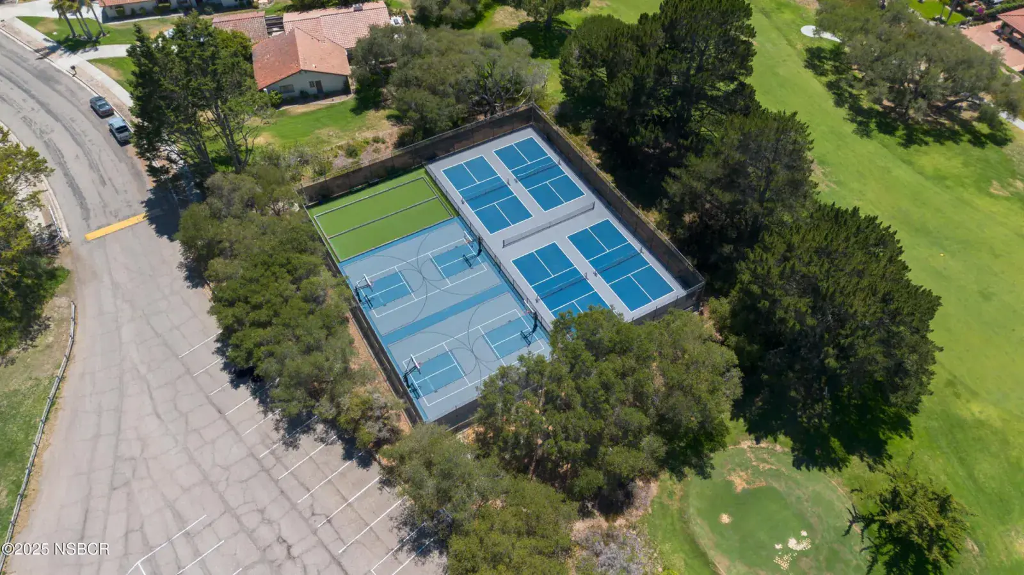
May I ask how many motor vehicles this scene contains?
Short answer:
2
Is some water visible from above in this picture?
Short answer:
No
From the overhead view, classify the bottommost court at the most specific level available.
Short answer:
basketball court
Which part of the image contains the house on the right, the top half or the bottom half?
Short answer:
top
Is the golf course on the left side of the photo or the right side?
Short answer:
right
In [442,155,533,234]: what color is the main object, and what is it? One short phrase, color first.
blue sports court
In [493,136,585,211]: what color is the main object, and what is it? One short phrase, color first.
blue sports court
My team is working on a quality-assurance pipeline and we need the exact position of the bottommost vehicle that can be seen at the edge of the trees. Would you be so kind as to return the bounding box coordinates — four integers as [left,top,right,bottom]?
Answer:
[103,114,134,142]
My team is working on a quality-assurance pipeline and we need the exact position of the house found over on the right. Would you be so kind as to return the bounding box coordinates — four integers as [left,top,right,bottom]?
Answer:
[992,9,1024,45]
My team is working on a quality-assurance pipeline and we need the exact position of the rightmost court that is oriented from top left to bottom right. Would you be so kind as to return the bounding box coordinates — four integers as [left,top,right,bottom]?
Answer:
[567,218,675,312]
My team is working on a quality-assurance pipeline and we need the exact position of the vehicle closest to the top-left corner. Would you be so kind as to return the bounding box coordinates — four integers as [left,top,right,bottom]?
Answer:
[87,94,112,115]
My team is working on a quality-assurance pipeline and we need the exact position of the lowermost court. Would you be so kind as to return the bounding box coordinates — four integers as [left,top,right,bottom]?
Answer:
[388,291,553,414]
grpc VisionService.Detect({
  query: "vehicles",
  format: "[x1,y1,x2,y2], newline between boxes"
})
[103,114,134,142]
[87,94,112,115]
